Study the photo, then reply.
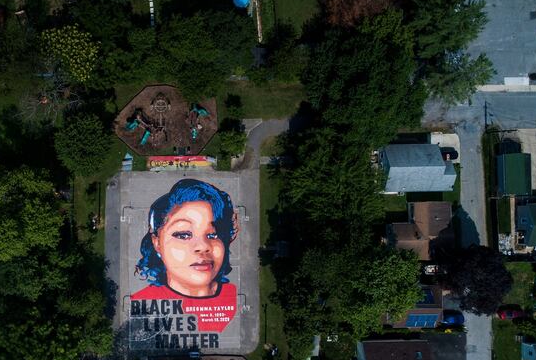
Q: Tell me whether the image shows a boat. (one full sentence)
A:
No, I can't see a single boat in this photo.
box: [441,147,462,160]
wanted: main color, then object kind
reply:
black vehicle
